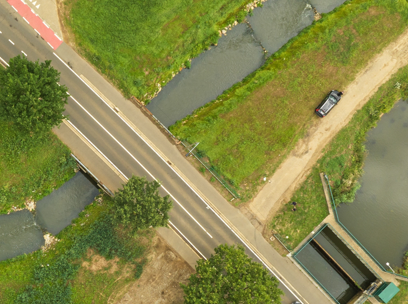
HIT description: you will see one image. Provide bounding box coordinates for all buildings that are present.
[371,282,400,303]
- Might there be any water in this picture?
Yes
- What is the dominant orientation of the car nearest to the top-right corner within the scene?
diagonally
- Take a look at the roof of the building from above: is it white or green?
green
